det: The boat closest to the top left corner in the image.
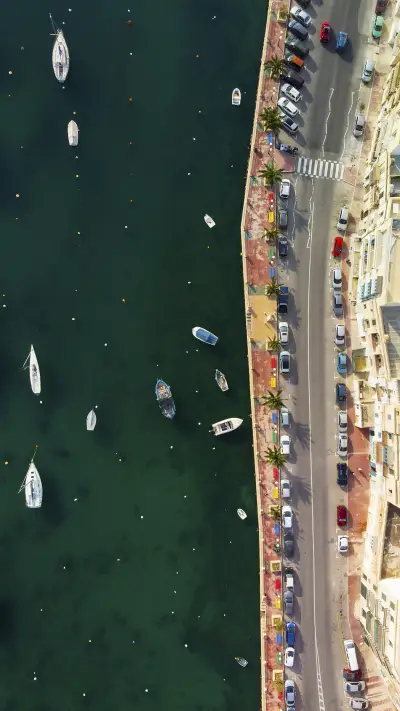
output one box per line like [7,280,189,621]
[49,16,69,84]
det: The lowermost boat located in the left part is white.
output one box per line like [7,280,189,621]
[17,447,41,509]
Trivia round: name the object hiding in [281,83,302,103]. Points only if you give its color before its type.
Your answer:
white car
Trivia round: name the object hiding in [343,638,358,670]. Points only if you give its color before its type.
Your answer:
white vehicle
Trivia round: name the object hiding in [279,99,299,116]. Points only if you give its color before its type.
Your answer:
white car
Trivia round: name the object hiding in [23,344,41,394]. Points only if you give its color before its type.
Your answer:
white boat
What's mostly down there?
water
